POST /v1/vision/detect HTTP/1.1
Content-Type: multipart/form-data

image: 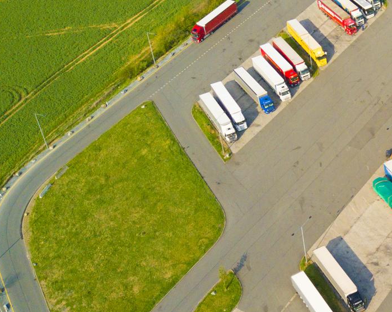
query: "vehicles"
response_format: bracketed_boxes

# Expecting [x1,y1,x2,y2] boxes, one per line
[374,174,392,206]
[191,0,237,43]
[211,82,247,132]
[349,0,376,19]
[273,37,311,83]
[319,0,358,36]
[331,0,366,26]
[252,56,291,103]
[291,271,333,312]
[289,21,326,66]
[262,44,300,89]
[233,67,275,114]
[366,0,382,10]
[199,93,237,143]
[314,247,367,312]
